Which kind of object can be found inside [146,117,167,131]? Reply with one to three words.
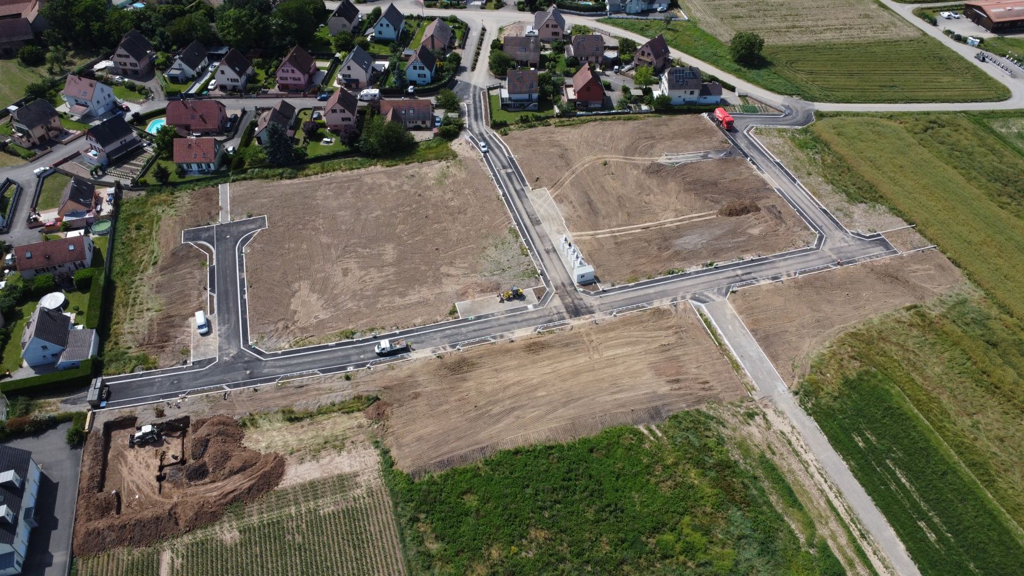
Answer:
swimming pool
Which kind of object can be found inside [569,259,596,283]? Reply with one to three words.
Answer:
building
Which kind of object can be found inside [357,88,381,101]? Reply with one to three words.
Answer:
vehicle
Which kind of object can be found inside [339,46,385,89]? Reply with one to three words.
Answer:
house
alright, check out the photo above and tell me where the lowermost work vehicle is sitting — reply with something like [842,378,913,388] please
[126,425,186,451]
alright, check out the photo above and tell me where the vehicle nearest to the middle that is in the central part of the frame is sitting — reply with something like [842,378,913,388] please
[498,286,529,303]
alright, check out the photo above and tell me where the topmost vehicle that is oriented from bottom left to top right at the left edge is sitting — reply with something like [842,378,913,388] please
[29,161,51,177]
